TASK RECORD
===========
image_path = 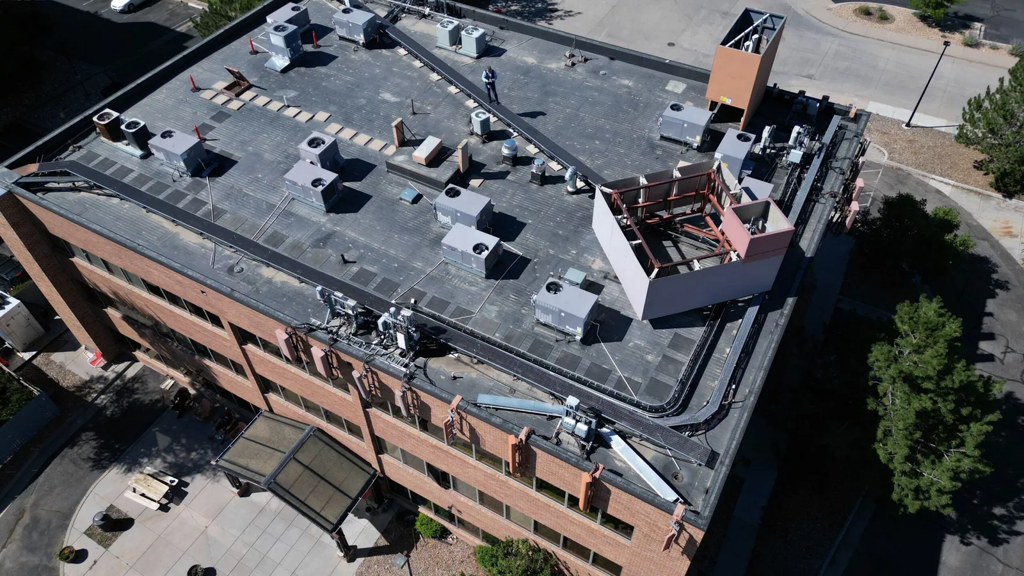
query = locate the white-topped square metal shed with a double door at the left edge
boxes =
[0,291,45,351]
